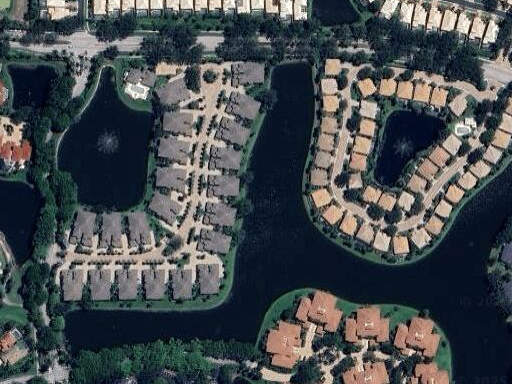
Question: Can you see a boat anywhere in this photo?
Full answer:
No, there appears to be no boat in this shot.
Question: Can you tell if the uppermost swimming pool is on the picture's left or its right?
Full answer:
The uppermost swimming pool sits on the left side.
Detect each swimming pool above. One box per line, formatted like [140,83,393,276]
[456,121,472,134]
[125,80,149,100]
